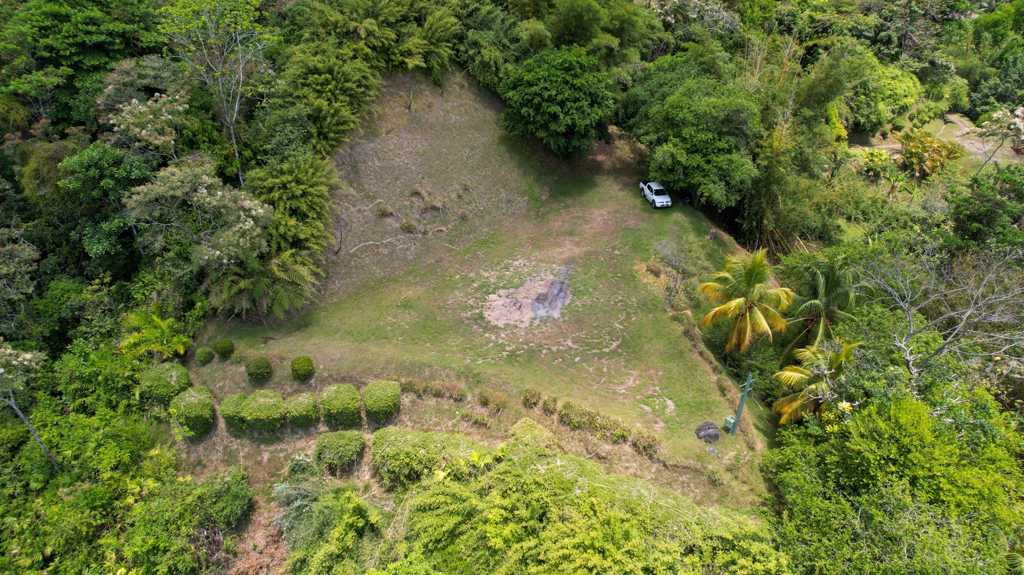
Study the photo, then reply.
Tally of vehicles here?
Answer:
1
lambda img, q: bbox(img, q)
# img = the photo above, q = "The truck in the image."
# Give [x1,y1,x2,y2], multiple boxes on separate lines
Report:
[638,181,673,209]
